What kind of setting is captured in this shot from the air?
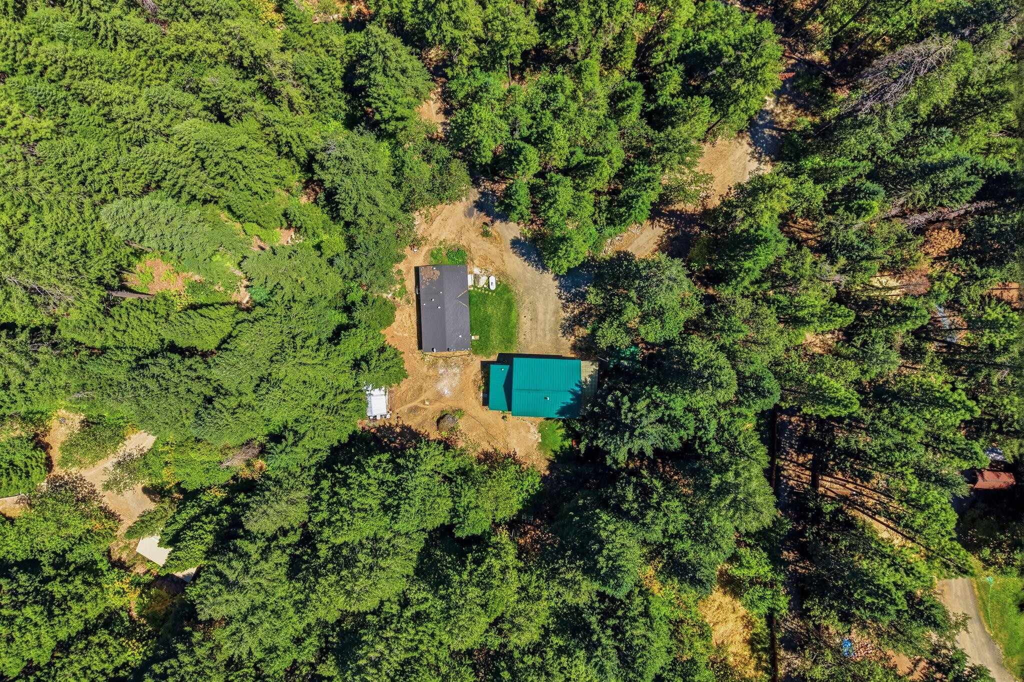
forest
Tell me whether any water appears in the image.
No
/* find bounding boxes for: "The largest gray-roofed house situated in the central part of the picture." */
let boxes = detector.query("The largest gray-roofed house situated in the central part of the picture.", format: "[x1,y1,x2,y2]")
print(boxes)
[419,264,472,353]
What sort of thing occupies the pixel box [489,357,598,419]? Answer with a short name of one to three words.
building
